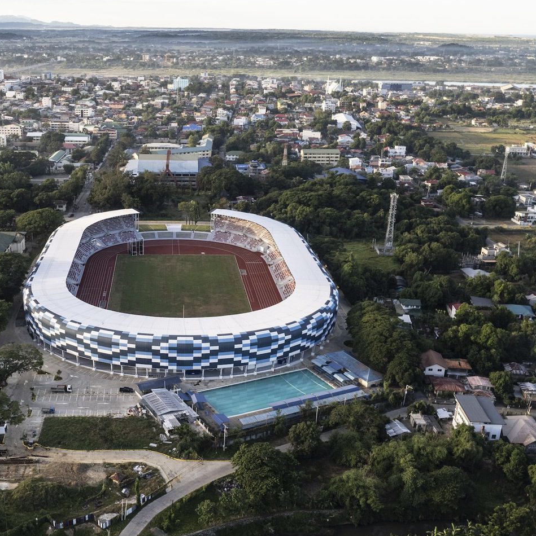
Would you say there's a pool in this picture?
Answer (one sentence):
Yes, a pool appears in the view.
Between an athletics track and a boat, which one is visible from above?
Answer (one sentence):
I can see an athletics track in this picture.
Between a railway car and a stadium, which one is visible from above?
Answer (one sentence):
The image shows a stadium.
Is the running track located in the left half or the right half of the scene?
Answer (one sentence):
The running track is on the left side of the image.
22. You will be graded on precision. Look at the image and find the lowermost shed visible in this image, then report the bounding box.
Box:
[97,510,116,530]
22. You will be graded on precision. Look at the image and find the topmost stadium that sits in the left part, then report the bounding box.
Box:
[20,207,342,380]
